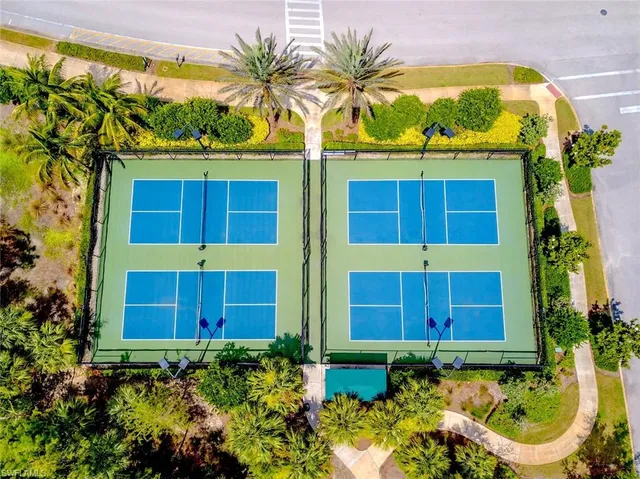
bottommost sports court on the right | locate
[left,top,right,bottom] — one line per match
[349,271,506,342]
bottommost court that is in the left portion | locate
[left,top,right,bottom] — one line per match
[121,270,277,340]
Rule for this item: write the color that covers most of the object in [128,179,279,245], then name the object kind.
blue sports court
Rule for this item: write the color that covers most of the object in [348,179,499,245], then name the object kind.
blue sports court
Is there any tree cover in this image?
Yes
